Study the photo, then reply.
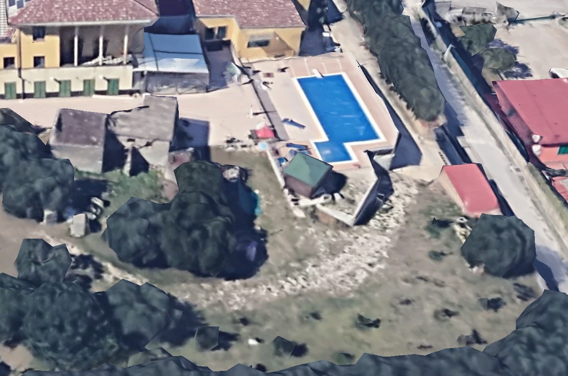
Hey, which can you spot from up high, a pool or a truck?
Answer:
pool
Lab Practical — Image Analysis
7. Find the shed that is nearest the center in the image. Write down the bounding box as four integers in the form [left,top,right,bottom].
[284,153,333,200]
